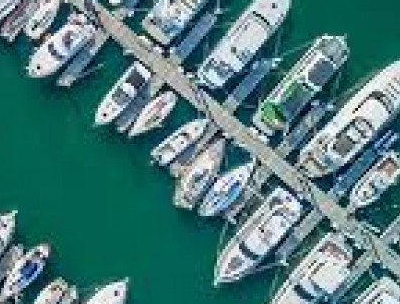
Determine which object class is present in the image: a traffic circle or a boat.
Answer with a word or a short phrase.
boat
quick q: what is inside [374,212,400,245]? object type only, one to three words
pier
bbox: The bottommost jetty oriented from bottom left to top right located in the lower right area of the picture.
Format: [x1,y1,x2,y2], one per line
[328,245,381,304]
